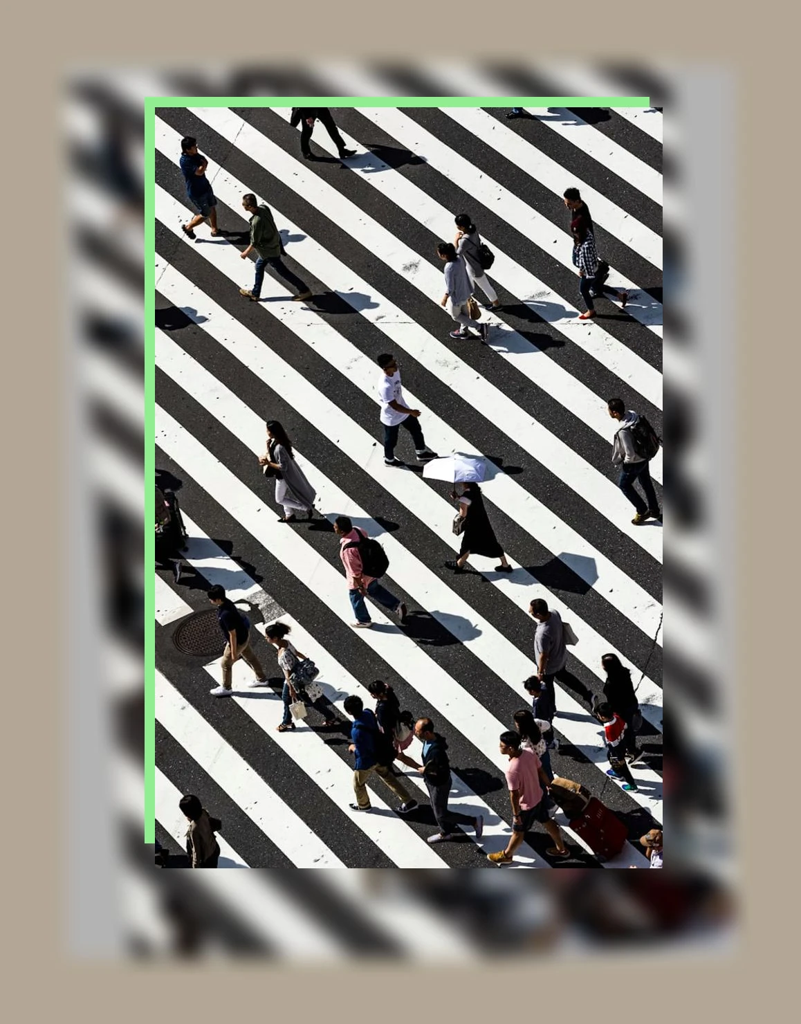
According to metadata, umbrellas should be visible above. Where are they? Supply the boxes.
[419,456,490,505]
